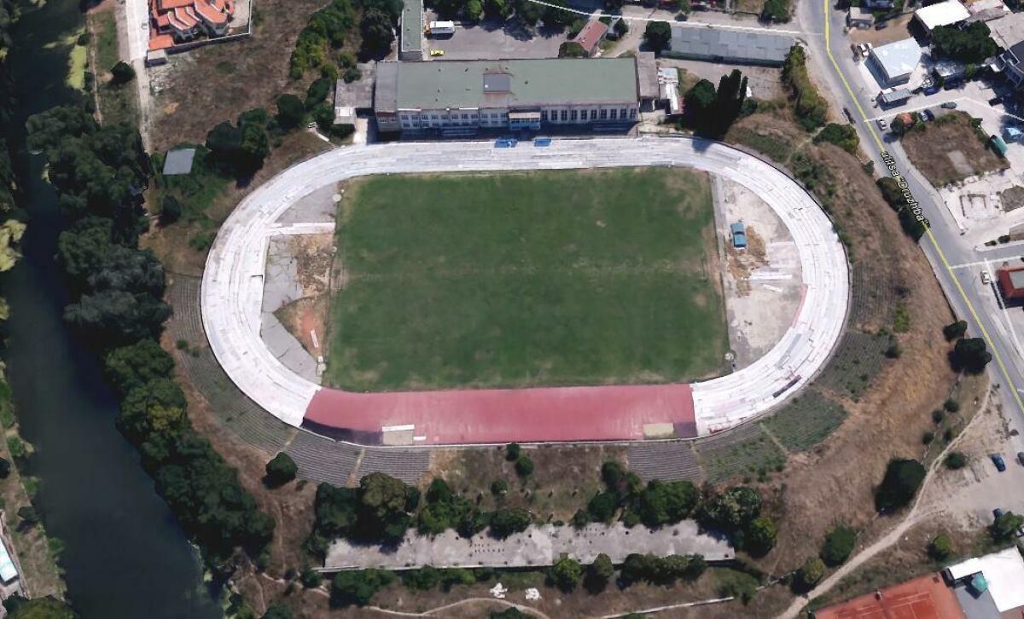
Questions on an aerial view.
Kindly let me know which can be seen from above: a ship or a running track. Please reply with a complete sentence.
The one in the frame is a running track.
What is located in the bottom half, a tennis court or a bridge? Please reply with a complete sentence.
The feature located in the bottom half is a tennis court.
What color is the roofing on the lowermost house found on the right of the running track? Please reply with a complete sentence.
The roof of the lowermost house found on the right of the running track is red.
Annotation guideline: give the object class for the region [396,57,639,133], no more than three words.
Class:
building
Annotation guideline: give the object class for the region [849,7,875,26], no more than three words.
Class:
shed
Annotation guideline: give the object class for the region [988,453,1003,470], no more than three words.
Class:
car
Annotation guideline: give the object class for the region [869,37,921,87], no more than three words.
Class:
house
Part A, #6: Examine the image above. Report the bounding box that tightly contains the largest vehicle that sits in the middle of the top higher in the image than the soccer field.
[427,23,454,37]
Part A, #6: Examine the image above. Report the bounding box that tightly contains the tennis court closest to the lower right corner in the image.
[879,572,972,619]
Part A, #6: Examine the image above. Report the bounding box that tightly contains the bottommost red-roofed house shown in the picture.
[995,263,1024,306]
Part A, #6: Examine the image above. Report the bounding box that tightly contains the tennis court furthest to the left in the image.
[814,592,895,619]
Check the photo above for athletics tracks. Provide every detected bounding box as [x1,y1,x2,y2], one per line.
[198,134,853,449]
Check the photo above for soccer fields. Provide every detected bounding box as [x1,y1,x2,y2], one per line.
[324,167,731,390]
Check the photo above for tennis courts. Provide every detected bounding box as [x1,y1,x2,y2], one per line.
[814,592,895,619]
[879,572,972,619]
